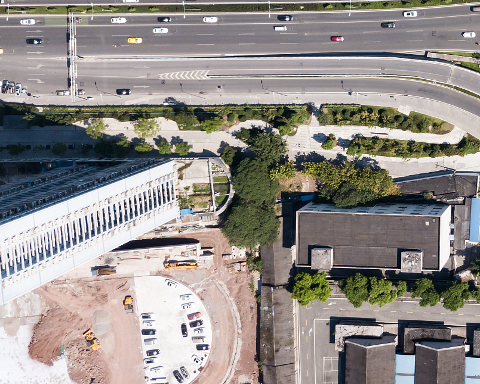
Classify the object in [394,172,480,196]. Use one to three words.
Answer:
building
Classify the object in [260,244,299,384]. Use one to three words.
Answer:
shed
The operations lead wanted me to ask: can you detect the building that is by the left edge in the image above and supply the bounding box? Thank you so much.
[0,147,190,299]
